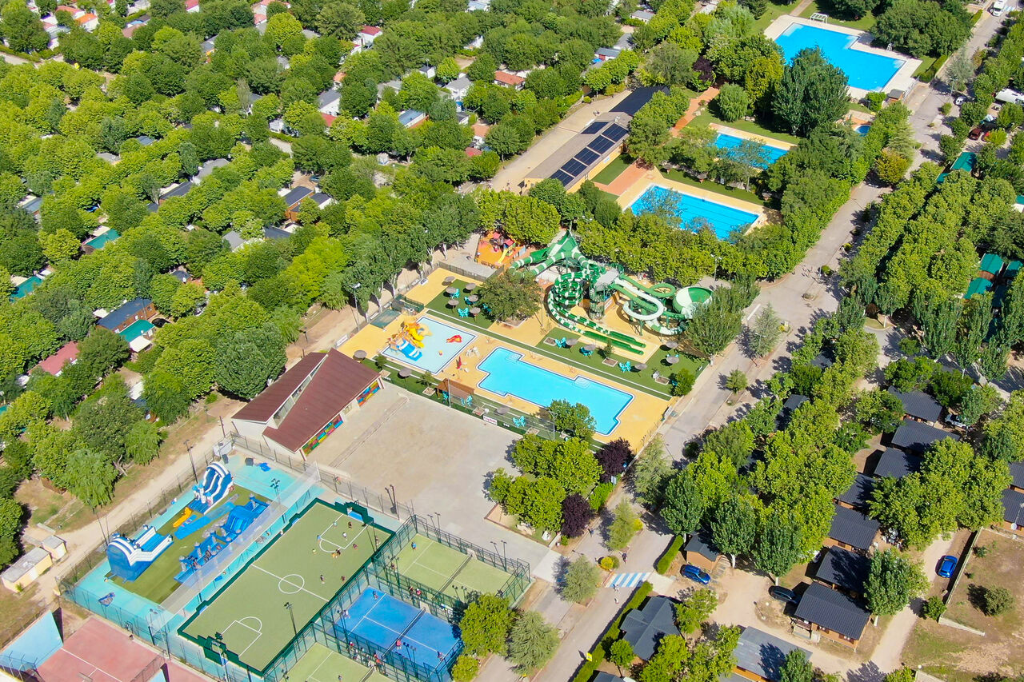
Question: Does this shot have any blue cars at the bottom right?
Yes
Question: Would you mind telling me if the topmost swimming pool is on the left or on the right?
right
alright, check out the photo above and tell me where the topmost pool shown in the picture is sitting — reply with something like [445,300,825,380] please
[759,21,909,93]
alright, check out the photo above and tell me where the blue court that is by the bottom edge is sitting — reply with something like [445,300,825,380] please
[320,565,485,682]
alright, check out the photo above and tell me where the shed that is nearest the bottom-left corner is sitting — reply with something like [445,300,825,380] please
[0,546,55,595]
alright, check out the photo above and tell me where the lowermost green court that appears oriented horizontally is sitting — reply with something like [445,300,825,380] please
[262,622,431,682]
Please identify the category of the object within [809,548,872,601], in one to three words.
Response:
building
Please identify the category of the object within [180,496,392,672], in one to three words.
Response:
sports court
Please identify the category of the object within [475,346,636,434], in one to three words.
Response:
swimming pool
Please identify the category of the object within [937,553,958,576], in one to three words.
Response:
car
